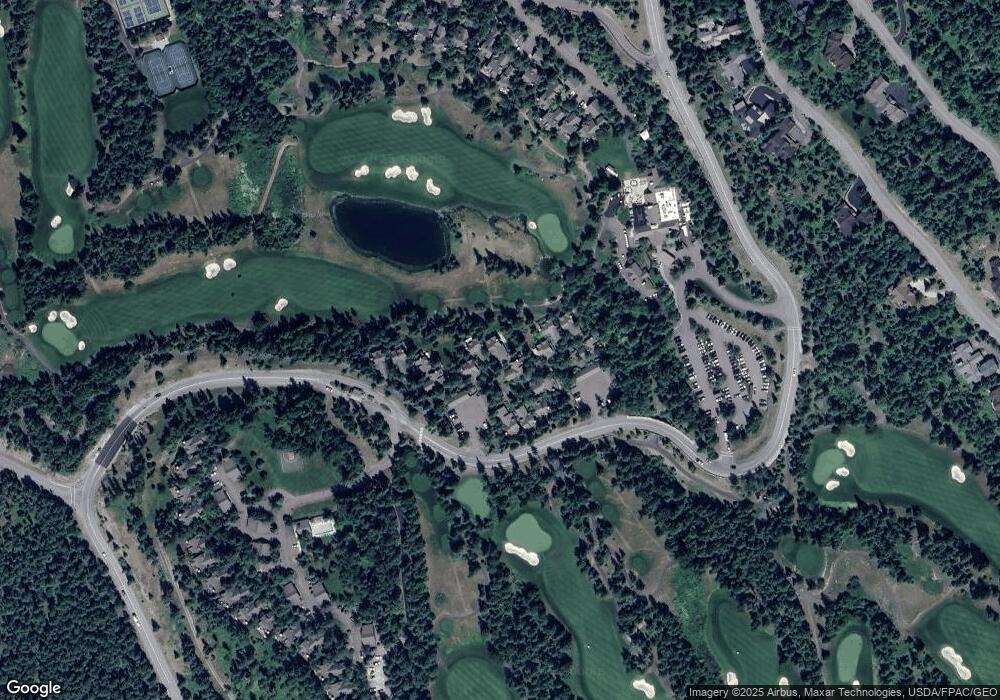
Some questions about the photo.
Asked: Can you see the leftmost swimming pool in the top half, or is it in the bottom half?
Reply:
bottom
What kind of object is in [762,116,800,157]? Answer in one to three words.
house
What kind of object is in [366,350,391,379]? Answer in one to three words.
house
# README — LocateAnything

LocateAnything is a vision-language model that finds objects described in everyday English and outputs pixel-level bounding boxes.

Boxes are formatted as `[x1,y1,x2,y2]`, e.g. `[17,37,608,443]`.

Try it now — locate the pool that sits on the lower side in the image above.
[310,516,336,537]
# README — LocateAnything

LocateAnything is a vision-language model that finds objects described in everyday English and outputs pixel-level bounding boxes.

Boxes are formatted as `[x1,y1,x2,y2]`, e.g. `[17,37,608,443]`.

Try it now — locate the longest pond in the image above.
[333,197,449,268]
